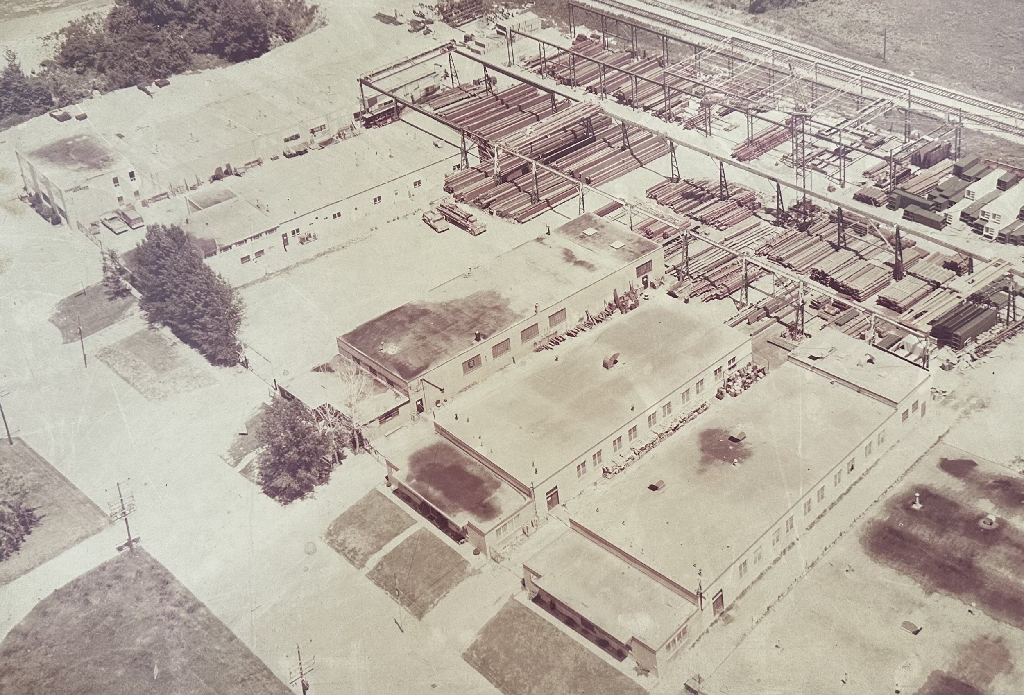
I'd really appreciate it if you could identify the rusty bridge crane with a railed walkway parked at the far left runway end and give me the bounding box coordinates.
[359,41,464,88]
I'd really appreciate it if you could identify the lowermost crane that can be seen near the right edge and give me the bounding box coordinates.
[897,255,1018,336]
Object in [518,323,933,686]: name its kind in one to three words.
building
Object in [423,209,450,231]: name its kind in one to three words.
truck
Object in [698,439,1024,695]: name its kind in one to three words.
warehouse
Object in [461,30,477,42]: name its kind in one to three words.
vehicle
